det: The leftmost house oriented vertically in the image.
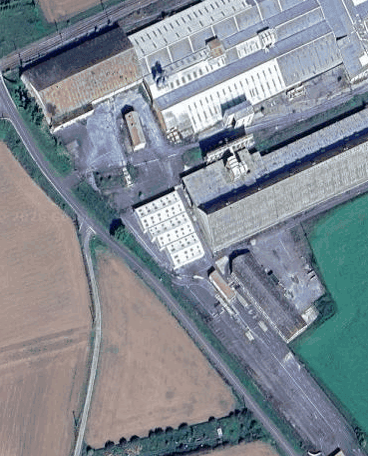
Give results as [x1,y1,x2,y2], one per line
[123,111,146,150]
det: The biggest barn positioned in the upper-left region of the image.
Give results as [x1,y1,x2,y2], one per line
[20,24,143,130]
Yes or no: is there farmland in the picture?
Yes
